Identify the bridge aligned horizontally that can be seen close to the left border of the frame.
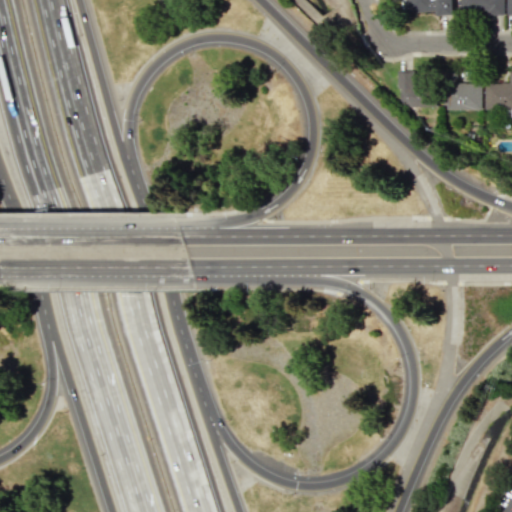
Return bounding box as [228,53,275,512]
[0,212,191,291]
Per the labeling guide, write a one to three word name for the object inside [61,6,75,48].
vehicle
